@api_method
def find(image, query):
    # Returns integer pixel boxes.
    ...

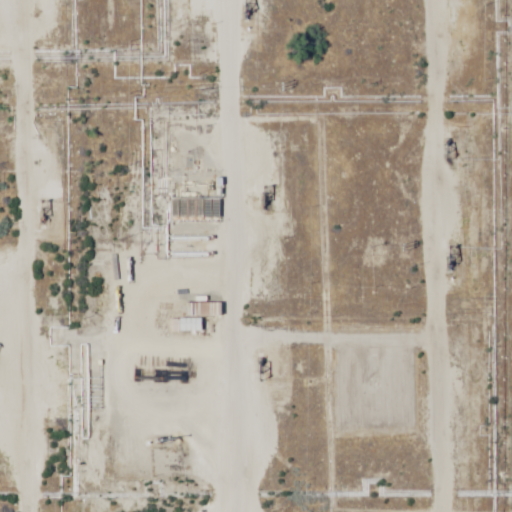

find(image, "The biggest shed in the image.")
[172,198,220,220]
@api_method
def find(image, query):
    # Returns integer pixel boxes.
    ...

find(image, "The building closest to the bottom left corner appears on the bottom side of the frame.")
[171,318,202,335]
